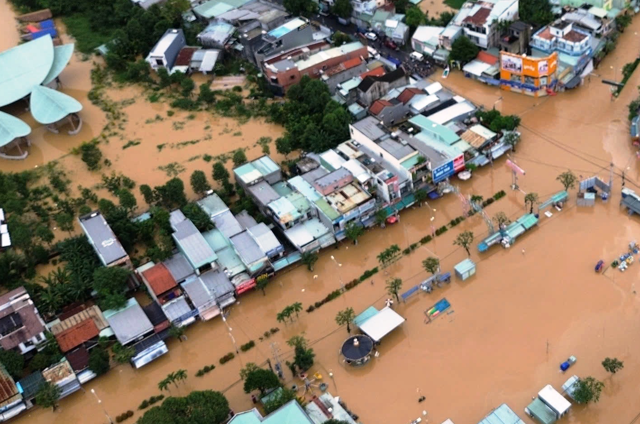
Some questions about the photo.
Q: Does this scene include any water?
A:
Yes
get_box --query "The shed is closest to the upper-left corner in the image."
[15,8,56,33]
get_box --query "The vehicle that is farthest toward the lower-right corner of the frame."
[560,352,579,371]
